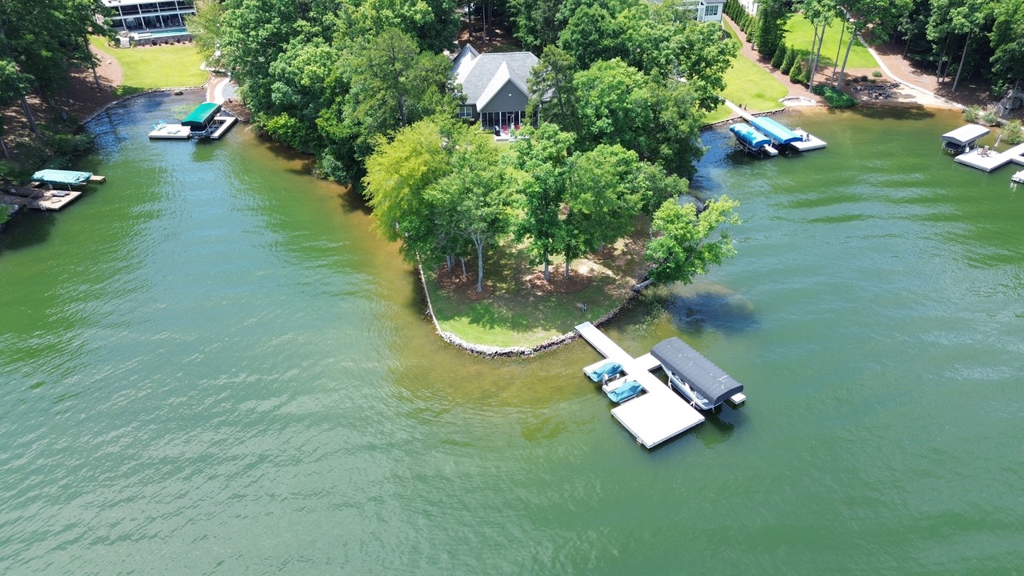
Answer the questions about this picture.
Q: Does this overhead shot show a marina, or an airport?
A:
marina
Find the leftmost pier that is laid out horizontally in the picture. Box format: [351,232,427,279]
[0,183,80,213]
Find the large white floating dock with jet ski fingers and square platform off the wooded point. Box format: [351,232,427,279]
[573,321,746,451]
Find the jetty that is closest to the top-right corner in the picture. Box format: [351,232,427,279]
[954,139,1024,175]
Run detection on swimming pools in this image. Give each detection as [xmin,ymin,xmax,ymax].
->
[135,25,202,43]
